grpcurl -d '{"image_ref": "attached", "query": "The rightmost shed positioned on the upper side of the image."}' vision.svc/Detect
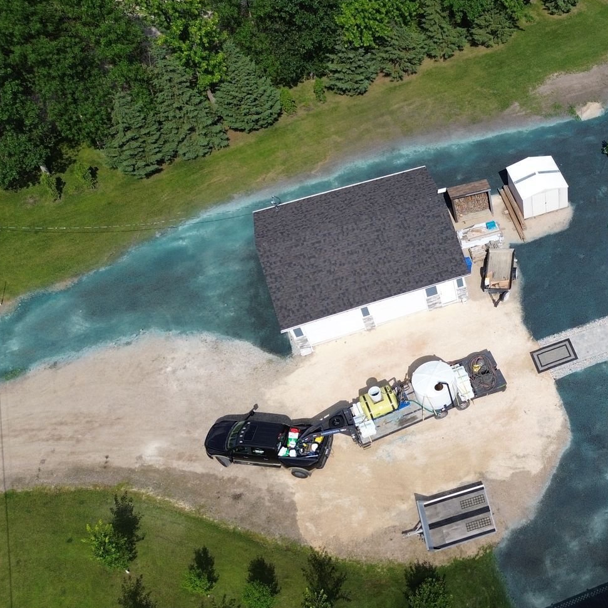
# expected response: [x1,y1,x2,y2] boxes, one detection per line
[507,155,568,219]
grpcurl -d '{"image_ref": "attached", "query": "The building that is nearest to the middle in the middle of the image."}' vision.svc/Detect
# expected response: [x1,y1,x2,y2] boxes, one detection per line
[255,165,471,354]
